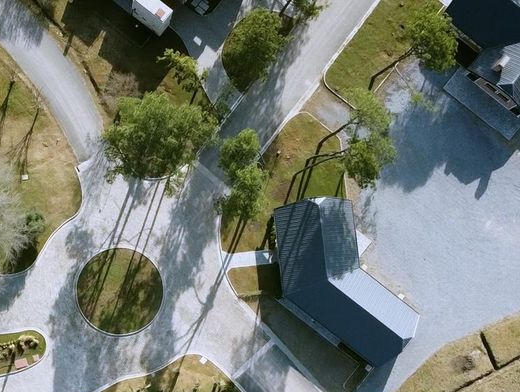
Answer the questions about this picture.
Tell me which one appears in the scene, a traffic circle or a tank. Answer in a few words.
traffic circle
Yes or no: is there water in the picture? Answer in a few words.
No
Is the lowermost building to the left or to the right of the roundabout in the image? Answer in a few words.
right of it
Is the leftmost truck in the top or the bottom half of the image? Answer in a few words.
top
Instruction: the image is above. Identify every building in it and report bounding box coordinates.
[269,194,423,371]
[434,0,520,141]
